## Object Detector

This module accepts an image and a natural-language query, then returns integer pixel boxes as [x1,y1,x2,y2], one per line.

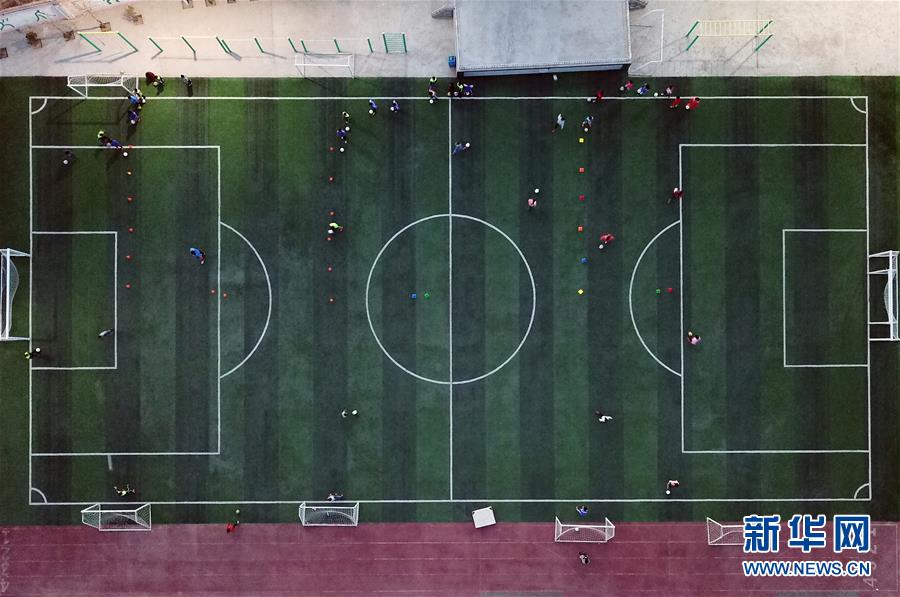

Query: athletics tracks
[0,522,900,597]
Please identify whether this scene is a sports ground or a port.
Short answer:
sports ground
